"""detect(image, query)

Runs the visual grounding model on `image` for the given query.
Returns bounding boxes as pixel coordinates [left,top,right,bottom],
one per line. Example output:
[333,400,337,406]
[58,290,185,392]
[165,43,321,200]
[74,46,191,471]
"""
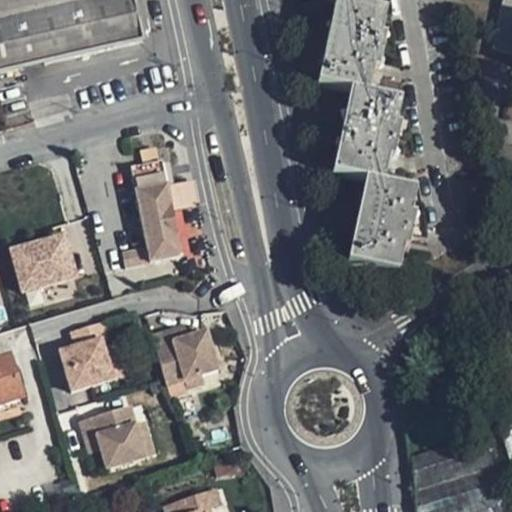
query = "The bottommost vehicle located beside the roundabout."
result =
[289,452,306,476]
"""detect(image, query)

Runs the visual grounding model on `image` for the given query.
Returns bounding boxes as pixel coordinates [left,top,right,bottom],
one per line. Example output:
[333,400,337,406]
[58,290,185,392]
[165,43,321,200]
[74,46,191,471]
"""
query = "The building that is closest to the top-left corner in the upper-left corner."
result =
[0,0,142,72]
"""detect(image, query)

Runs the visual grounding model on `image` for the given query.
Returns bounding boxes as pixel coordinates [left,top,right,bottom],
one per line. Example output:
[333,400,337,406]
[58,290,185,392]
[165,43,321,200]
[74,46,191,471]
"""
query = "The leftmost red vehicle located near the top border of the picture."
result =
[194,4,206,25]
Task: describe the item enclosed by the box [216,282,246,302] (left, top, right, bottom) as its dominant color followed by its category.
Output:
white vehicle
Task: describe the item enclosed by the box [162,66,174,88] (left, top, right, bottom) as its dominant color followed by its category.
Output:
white vehicle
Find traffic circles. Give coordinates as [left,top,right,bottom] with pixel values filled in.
[284,366,366,449]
